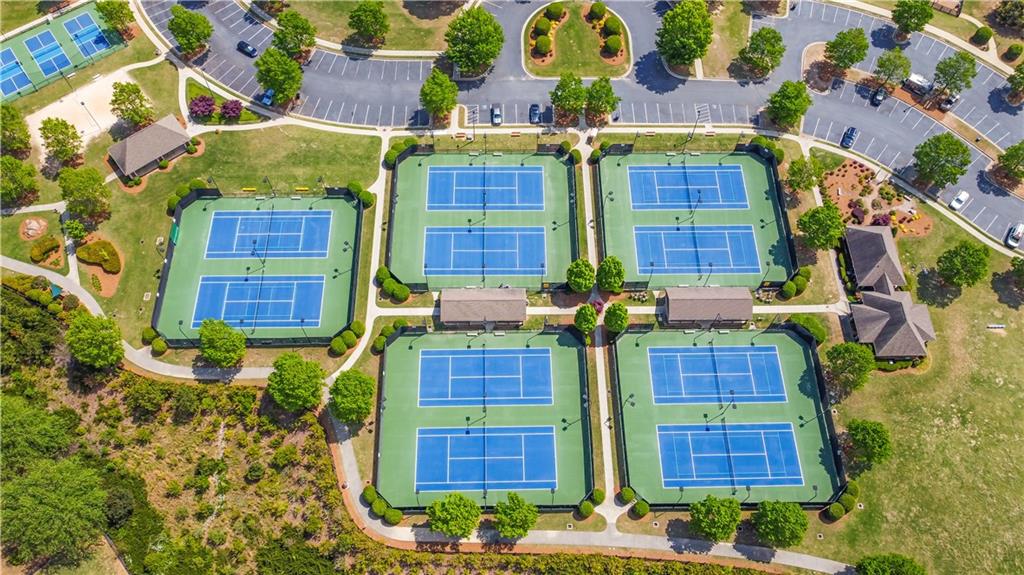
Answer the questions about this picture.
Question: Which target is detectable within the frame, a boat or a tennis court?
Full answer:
The image shows a tennis court.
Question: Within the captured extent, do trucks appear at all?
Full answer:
Yes, I can see a truck in this picture.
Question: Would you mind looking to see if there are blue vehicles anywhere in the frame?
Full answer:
Yes, you can see a blue vehicle in this photo.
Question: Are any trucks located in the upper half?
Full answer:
Yes, looking in the upper half, one can make out a truck.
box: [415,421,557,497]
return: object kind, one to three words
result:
tennis court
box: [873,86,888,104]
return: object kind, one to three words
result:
car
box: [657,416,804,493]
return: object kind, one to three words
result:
tennis court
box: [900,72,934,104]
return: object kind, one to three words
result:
truck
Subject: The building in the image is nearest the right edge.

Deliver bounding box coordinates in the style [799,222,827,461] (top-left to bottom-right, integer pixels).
[843,226,936,365]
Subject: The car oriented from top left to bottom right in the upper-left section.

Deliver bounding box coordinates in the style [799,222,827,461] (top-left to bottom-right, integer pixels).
[237,40,257,55]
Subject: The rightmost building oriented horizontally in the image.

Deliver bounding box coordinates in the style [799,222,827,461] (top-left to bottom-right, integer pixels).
[663,287,754,327]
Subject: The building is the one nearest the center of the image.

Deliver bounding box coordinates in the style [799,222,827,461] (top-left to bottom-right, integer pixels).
[441,288,527,328]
